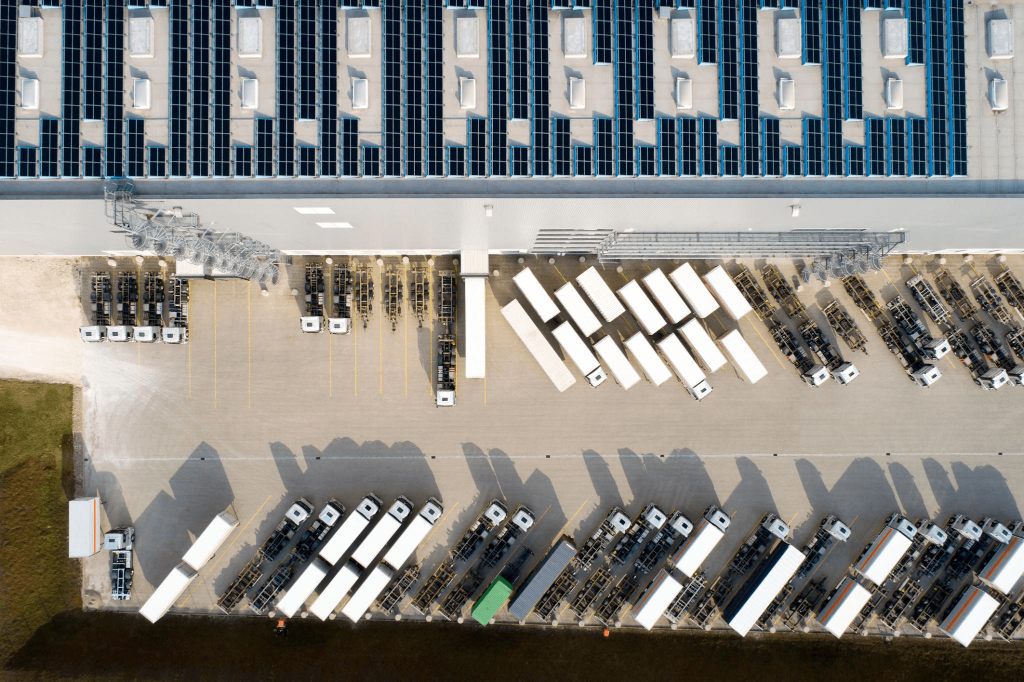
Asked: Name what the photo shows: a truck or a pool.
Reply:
truck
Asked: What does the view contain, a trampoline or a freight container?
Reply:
freight container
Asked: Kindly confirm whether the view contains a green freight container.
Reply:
Yes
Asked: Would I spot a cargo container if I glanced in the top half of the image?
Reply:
No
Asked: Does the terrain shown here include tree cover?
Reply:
No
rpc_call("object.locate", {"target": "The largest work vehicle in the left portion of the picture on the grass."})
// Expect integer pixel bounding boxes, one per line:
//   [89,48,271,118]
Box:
[275,621,287,638]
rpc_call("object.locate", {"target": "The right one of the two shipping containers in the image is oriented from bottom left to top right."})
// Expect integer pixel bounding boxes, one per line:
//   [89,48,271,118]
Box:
[509,536,576,620]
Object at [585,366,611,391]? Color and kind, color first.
white truck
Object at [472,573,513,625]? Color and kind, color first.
green shipping container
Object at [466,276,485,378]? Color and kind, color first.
white trailer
